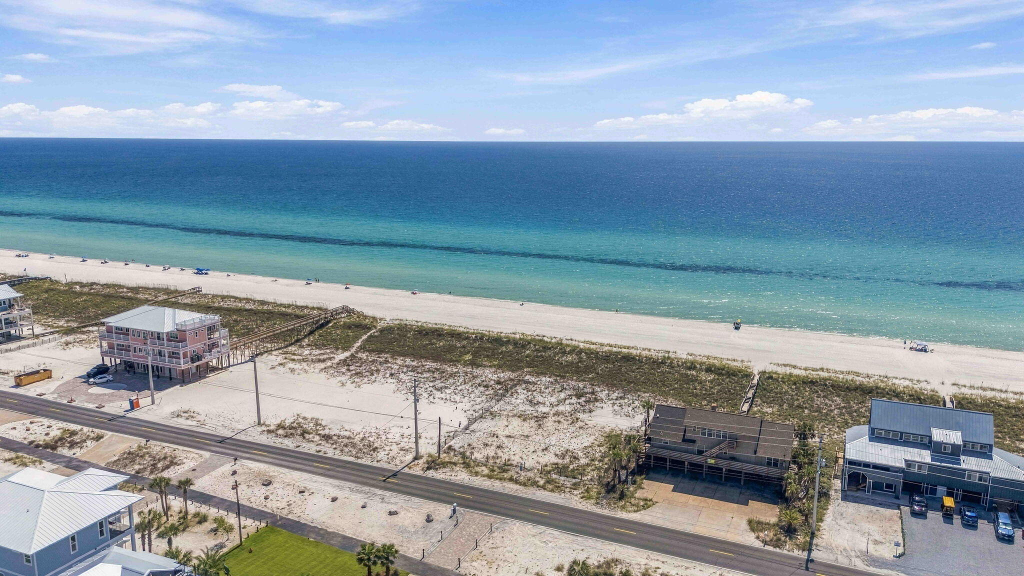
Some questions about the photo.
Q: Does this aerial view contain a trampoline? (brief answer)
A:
No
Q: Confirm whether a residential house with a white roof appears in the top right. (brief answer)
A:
No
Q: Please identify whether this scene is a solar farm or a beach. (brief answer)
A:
beach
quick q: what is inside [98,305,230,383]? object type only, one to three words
house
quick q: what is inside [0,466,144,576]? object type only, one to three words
house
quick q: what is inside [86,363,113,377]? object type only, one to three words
car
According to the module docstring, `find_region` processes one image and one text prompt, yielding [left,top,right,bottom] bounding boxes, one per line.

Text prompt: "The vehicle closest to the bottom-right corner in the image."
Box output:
[984,510,1016,541]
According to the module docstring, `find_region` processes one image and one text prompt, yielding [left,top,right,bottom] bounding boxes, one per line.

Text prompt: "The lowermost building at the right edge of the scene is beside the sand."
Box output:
[841,397,1024,510]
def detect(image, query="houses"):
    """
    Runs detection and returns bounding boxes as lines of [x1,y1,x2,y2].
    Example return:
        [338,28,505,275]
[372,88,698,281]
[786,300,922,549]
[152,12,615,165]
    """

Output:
[0,290,35,342]
[635,401,796,491]
[98,305,230,383]
[841,397,1024,510]
[0,466,144,576]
